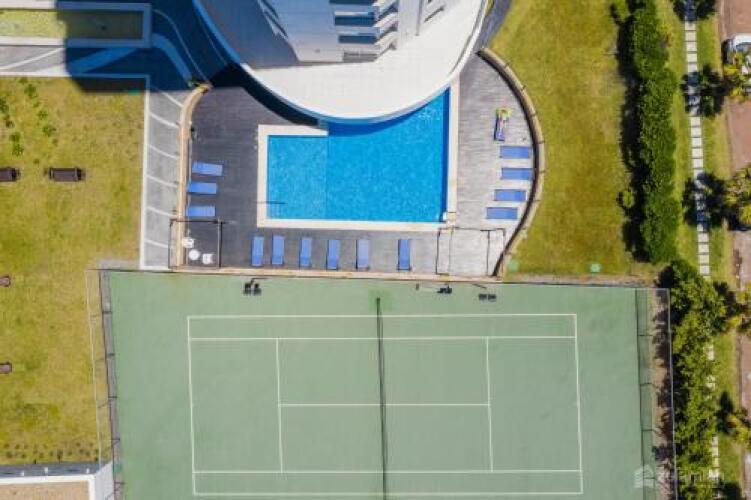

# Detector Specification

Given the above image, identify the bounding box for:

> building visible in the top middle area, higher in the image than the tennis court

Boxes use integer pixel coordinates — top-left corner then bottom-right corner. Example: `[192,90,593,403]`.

[199,0,490,120]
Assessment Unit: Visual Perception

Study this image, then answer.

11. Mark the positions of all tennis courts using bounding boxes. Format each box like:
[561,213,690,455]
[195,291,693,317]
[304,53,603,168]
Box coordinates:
[111,271,655,500]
